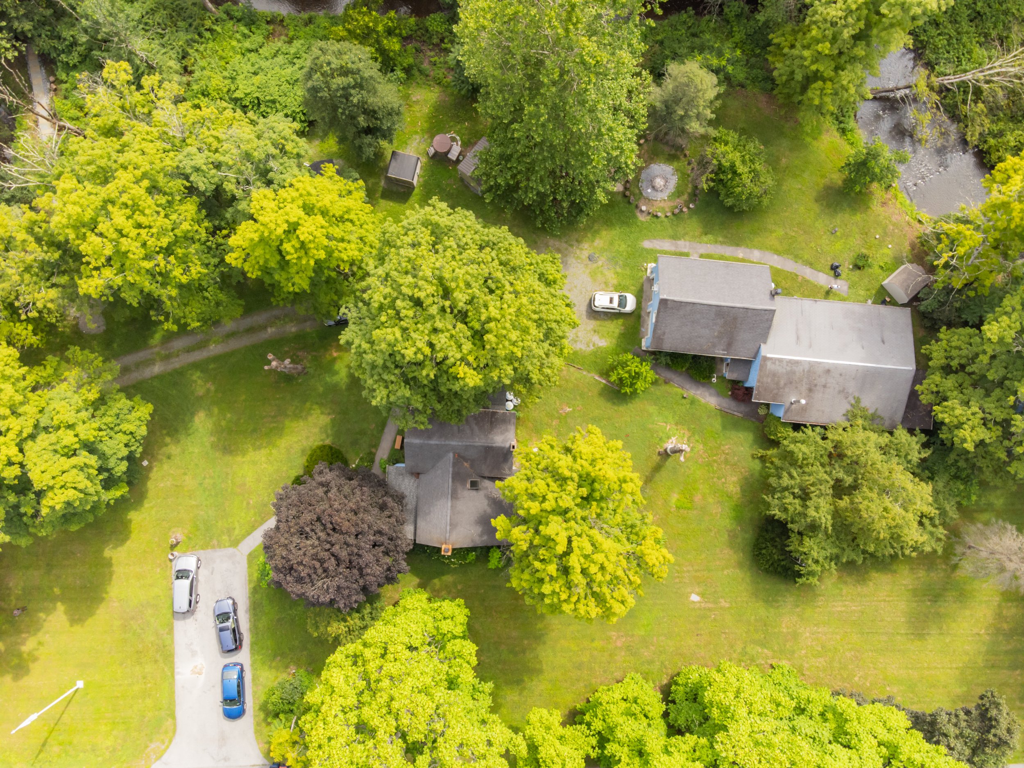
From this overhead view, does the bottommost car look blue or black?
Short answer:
blue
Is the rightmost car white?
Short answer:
Yes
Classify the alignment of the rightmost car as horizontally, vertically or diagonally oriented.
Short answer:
horizontally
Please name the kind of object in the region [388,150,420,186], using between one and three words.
shed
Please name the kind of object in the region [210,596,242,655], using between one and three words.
car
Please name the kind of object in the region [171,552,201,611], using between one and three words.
car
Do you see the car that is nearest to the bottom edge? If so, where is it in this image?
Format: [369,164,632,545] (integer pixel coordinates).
[219,662,247,721]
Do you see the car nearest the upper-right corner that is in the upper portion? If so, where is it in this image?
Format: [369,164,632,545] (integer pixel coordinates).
[591,290,637,314]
